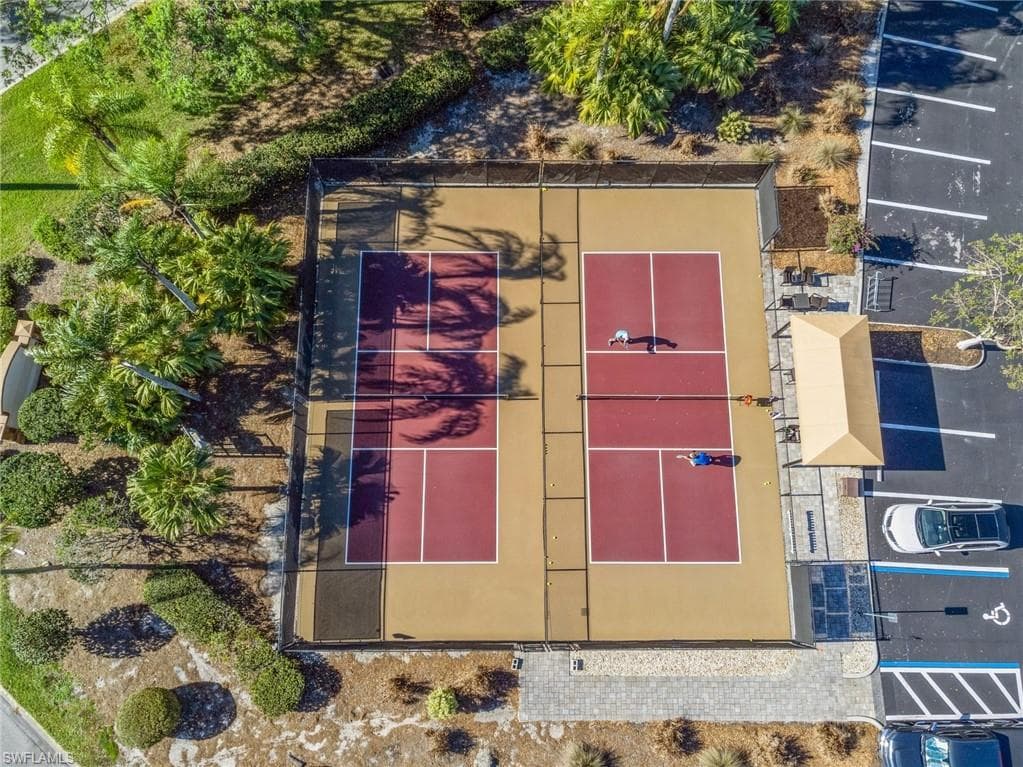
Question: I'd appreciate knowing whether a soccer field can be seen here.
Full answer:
No, I find no soccer field anywhere in the image.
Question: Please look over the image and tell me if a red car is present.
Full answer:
No, the photo shows no red car.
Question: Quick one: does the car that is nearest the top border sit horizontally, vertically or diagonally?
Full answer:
The car that is nearest the top border is laid out horizontally.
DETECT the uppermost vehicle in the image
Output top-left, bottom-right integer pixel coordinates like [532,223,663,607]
[879,495,1009,556]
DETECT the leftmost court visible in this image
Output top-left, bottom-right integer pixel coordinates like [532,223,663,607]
[297,186,545,641]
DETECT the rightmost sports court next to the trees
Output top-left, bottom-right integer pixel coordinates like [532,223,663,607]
[541,187,792,641]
